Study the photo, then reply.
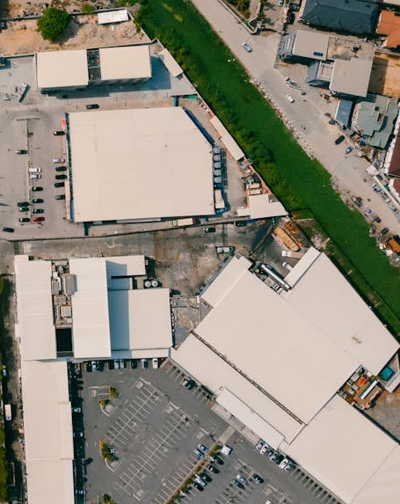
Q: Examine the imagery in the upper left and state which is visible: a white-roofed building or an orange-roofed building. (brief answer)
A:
white-roofed building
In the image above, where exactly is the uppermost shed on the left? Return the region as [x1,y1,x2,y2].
[99,9,129,25]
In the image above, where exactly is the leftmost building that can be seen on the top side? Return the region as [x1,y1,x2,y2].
[36,51,88,91]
